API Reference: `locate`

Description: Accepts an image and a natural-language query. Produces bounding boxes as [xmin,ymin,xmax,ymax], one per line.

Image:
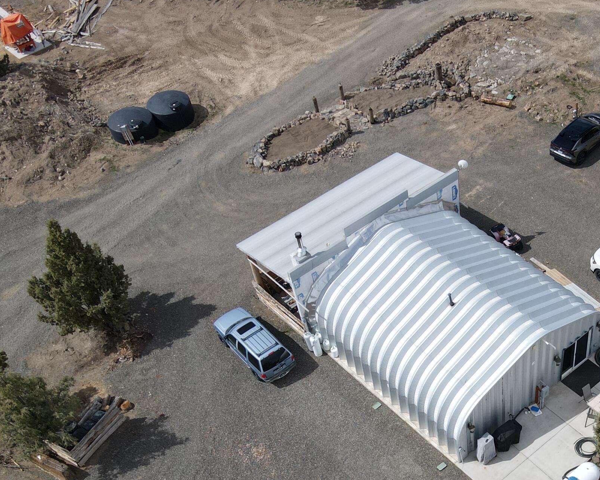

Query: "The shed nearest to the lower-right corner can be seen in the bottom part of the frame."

[318,213,600,465]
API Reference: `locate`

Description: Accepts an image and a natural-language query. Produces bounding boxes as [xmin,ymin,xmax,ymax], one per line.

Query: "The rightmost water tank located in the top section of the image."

[146,91,199,136]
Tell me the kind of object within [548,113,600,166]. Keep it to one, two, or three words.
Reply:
car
